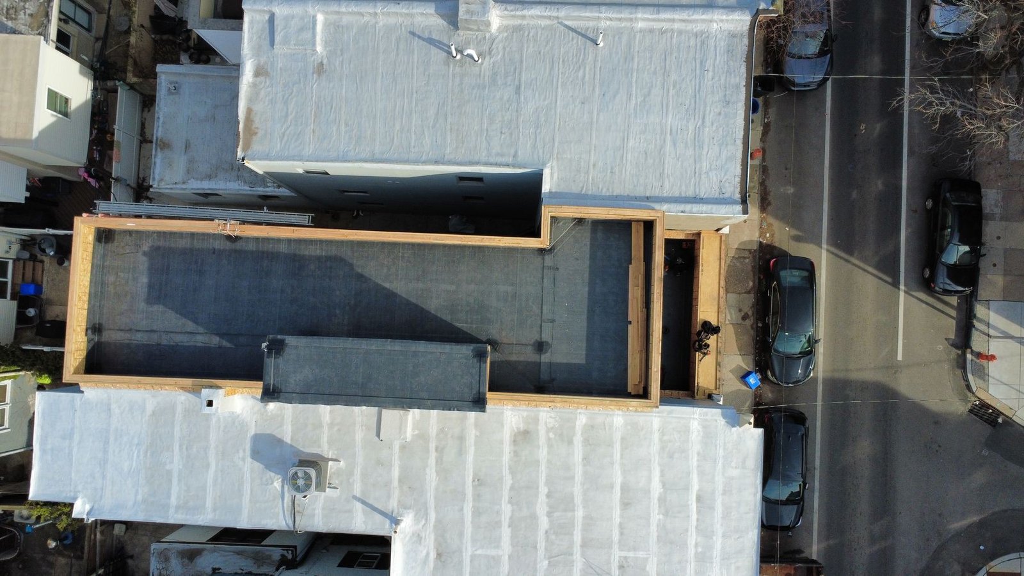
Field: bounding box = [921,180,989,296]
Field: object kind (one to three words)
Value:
car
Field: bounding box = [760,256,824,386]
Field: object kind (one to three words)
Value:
car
